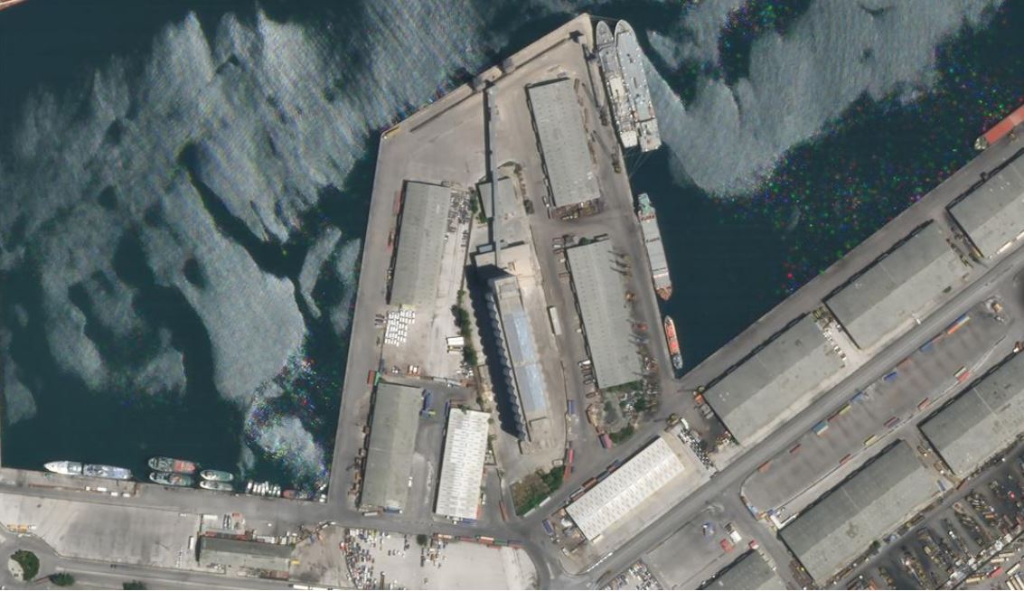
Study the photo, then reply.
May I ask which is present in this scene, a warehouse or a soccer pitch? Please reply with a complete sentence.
The one in the frame is a warehouse.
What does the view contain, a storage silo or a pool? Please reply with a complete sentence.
There is a storage silo in the scene.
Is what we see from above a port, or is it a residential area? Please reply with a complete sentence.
This image shows a port.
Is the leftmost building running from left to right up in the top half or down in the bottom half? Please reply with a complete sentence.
The bottom half of the photo is where the leftmost building running from left to right is.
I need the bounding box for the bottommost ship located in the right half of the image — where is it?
[665,316,683,370]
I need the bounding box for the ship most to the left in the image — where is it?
[44,461,84,475]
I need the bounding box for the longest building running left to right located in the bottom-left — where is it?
[200,537,295,571]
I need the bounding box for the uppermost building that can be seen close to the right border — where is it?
[947,149,1024,258]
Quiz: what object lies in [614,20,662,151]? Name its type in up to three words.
ship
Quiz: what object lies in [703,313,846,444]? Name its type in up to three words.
warehouse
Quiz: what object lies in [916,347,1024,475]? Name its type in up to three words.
building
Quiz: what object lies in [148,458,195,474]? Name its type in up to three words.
vessel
